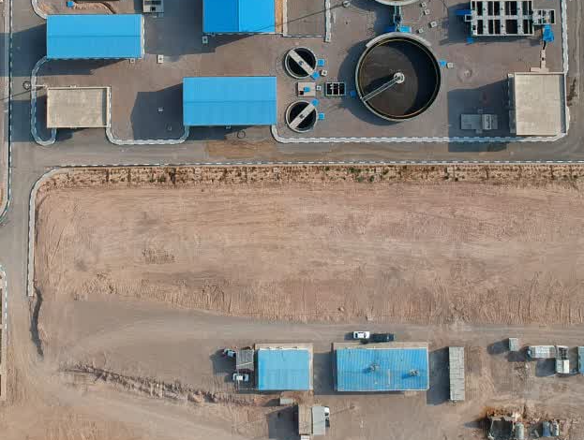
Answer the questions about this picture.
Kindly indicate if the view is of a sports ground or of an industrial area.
industrial area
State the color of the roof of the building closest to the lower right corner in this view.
blue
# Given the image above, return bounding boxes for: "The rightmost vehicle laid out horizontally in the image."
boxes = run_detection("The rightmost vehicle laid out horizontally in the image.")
[527,344,557,357]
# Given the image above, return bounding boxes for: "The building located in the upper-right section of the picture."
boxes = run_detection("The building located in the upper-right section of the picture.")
[504,73,565,136]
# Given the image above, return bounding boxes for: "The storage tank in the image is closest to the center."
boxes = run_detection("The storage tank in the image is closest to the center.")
[284,99,317,132]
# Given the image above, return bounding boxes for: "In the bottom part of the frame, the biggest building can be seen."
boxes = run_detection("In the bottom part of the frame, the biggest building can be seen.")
[332,342,428,391]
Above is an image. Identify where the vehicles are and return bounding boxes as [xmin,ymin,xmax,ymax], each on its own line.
[352,330,370,339]
[554,343,568,373]
[371,332,392,342]
[527,344,557,357]
[222,346,236,357]
[232,372,249,380]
